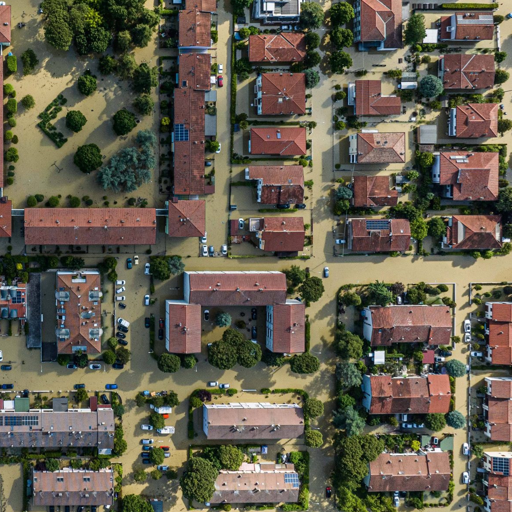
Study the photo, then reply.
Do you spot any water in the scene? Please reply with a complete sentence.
Yes, there's water in this view.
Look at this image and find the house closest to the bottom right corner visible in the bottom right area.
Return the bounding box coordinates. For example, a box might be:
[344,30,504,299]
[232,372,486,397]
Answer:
[478,451,512,512]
